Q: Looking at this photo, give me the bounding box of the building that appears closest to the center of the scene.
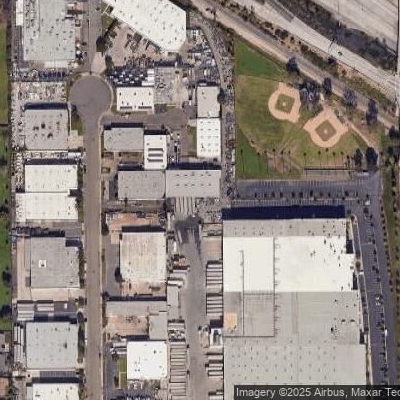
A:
[166,170,221,197]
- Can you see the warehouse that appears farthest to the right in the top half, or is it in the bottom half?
bottom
